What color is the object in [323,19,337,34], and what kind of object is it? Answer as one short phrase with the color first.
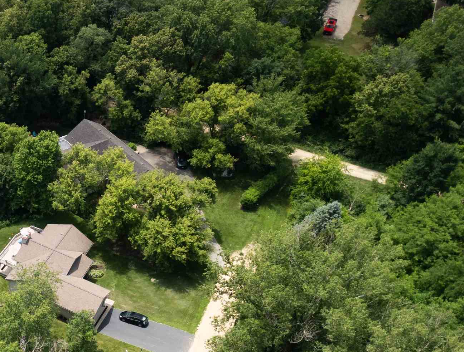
red vehicle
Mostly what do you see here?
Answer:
trees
